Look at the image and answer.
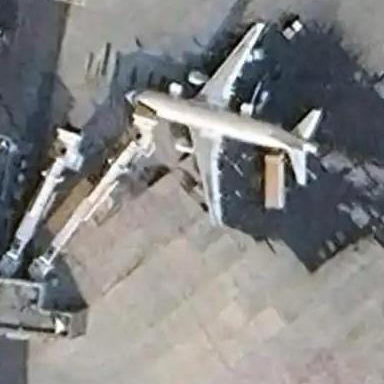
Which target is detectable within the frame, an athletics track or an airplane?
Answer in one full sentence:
Visible in the photo is an airplane.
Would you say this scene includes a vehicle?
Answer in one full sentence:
Yes, there's a vehicle here.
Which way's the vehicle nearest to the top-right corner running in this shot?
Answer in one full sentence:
I'd say the vehicle nearest to the top-right corner is aligned diagonally in the picture.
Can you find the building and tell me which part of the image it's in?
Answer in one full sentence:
The building is located in the bottom left region of the scene.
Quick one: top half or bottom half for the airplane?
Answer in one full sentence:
Seen from above, the airplane lies in the top half of the view.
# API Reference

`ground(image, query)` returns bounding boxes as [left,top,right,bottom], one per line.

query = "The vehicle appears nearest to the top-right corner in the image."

[281,20,303,39]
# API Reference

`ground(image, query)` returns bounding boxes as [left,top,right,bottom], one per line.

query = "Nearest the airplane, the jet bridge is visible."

[29,102,158,280]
